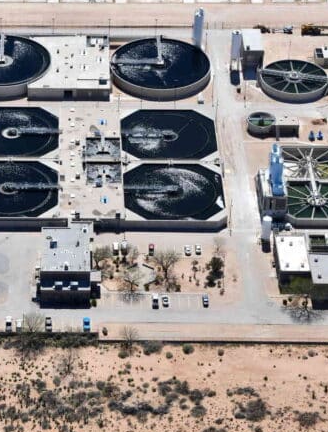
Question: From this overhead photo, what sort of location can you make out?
industrial area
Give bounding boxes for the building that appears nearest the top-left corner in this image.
[22,34,110,97]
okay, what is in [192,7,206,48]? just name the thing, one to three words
silo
